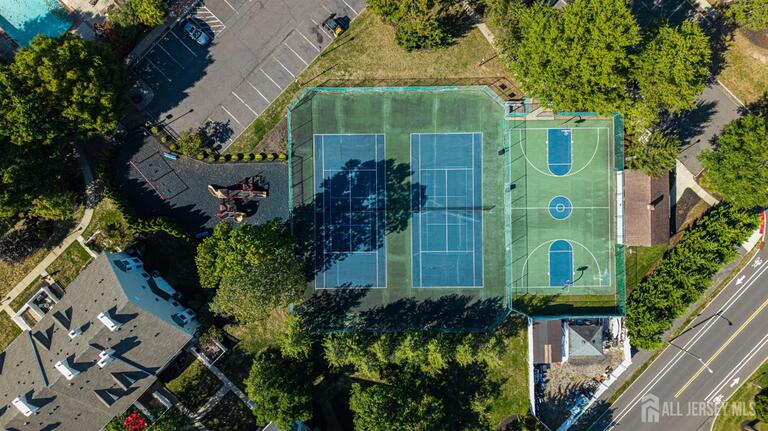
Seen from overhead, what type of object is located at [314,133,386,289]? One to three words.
tennis court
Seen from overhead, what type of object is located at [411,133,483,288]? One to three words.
tennis court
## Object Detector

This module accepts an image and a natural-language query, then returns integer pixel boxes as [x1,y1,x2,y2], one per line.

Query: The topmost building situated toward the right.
[619,169,670,246]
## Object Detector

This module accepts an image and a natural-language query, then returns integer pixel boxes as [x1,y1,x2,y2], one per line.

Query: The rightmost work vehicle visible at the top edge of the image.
[320,12,344,35]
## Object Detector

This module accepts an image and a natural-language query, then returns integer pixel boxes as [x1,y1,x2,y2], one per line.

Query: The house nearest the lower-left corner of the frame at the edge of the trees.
[0,251,210,431]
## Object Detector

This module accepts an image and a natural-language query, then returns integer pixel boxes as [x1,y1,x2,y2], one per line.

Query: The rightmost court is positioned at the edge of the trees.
[511,127,609,287]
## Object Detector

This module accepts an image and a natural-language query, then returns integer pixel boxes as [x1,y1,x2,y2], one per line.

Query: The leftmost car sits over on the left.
[179,20,210,46]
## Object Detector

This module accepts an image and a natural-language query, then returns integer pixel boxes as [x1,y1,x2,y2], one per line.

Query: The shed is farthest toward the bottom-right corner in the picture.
[568,324,602,364]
